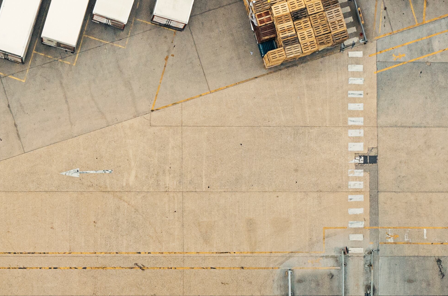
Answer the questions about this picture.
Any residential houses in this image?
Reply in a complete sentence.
No, I can see no residential house in this picture.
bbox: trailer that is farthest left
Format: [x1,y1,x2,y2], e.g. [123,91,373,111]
[0,0,43,66]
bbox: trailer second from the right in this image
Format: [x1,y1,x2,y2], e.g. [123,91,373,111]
[91,0,134,34]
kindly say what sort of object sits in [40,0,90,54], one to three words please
trailer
